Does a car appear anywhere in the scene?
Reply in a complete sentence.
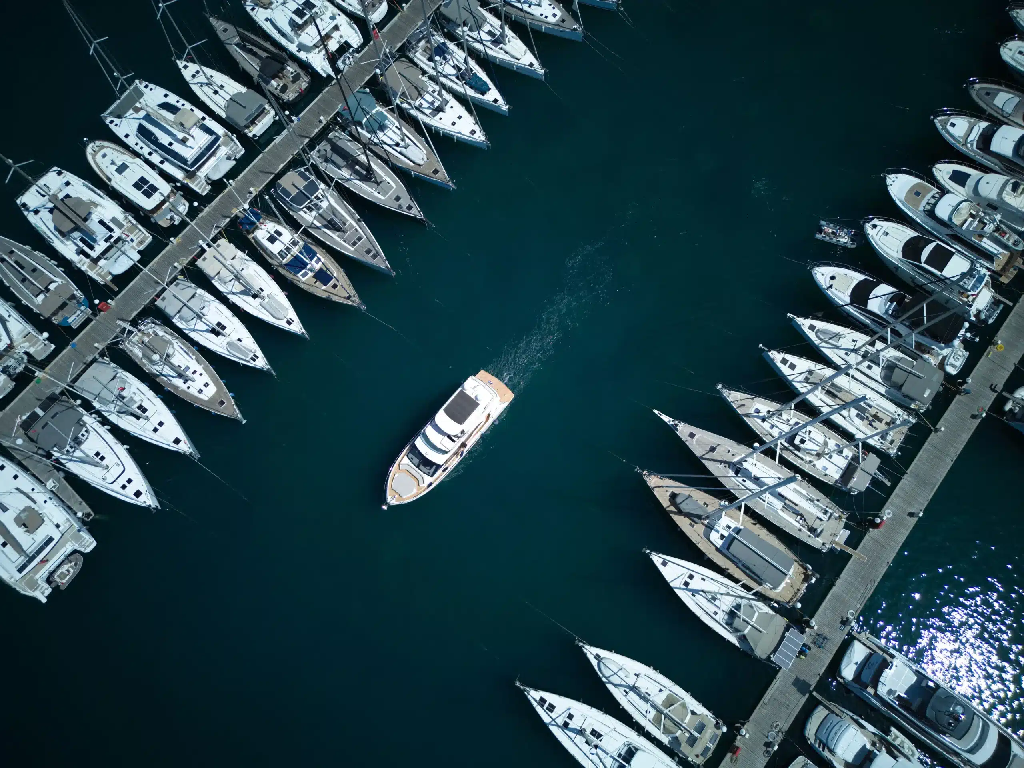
No, the photo shows no car.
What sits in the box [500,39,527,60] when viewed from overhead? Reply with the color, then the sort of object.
white boat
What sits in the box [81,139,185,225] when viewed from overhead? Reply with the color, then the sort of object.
white boat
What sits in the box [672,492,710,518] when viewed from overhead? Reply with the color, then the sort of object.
gray boat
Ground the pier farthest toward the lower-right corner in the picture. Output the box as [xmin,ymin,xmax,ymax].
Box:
[717,293,1024,768]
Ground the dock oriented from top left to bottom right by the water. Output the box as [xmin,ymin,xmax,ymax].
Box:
[0,402,96,520]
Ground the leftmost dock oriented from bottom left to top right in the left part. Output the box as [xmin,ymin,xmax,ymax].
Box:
[0,0,446,444]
